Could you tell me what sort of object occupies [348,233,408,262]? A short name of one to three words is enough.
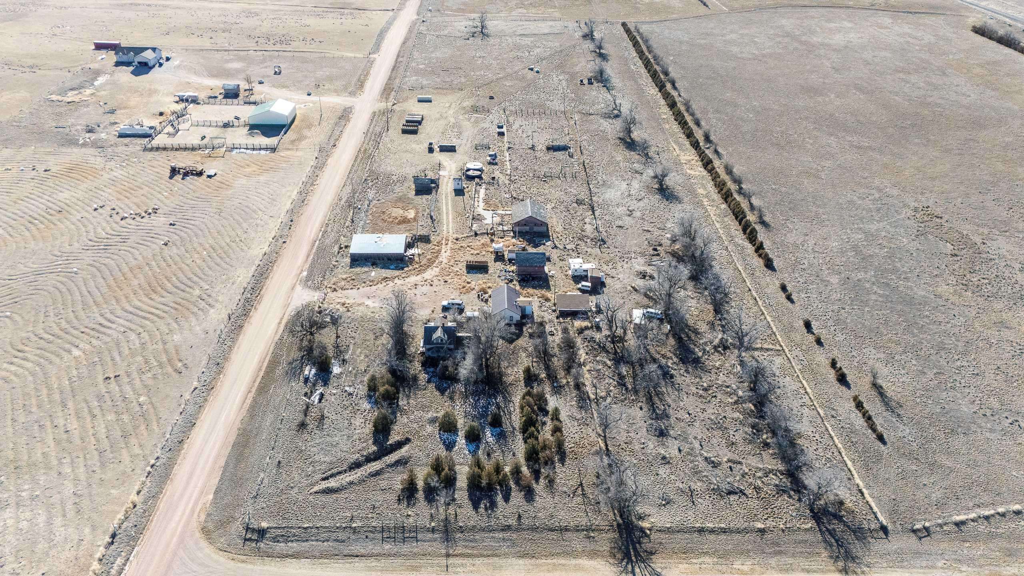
shed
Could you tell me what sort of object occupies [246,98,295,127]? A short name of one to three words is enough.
barn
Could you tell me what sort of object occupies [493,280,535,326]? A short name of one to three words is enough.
house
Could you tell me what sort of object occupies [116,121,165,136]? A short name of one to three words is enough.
building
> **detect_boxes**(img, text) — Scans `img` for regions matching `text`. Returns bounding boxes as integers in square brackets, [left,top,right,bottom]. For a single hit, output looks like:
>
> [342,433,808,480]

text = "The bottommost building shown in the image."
[421,315,474,354]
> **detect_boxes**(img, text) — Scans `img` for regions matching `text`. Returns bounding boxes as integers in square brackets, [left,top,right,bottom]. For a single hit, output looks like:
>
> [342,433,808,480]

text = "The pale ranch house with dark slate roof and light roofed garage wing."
[114,44,163,66]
